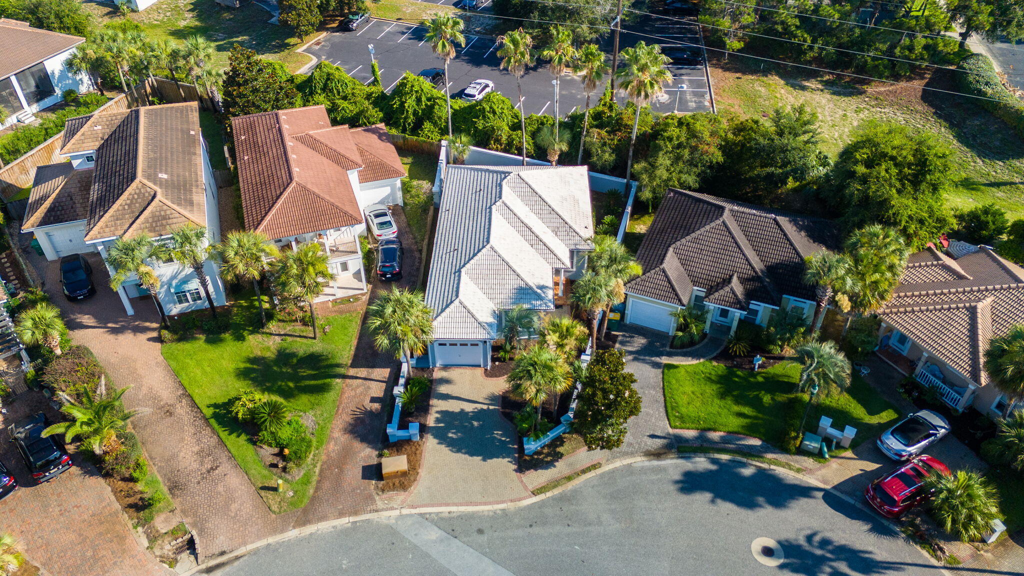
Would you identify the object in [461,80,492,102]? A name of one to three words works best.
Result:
car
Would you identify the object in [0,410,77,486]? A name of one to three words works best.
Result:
car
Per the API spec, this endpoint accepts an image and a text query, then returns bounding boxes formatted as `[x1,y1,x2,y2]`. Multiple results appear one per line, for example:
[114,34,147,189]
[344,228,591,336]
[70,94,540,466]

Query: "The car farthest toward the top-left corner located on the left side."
[56,251,98,303]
